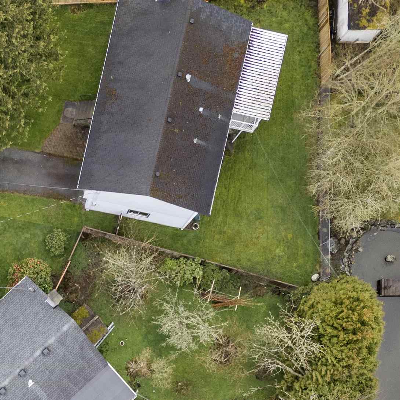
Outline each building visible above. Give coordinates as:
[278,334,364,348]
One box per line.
[0,275,137,400]
[76,0,256,231]
[333,0,390,48]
